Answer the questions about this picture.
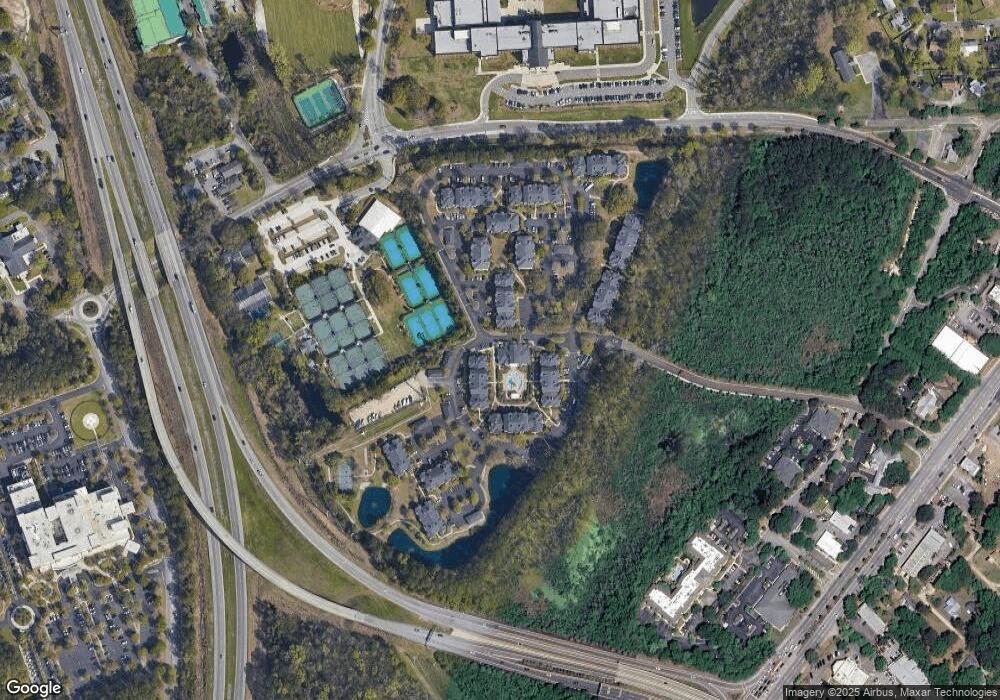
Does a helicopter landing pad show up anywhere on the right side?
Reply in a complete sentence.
No, there is no helicopter landing pad on the right side.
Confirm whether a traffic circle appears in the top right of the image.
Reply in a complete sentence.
No, the scene shows no traffic circle in the top right of the image.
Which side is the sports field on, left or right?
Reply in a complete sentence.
The sports field is on the left side of the image.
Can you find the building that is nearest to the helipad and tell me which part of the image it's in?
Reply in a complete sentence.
The building that is nearest to the helipad is located in the bottom left region of the scene.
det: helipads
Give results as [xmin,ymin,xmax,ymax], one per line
[71,401,110,440]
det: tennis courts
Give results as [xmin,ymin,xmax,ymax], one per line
[317,83,347,117]
[411,264,441,300]
[379,234,409,271]
[310,274,341,313]
[402,313,431,349]
[395,271,424,309]
[359,337,390,375]
[338,464,353,490]
[326,311,357,349]
[395,226,423,263]
[327,352,357,391]
[306,86,335,123]
[416,307,444,342]
[311,319,341,357]
[294,282,324,320]
[431,299,458,335]
[343,345,373,383]
[343,303,374,341]
[325,267,356,306]
[294,92,322,129]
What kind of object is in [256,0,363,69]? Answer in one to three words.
sports field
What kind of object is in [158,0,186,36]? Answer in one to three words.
sports court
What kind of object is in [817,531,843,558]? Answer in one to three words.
building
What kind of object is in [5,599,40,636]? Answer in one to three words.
roundabout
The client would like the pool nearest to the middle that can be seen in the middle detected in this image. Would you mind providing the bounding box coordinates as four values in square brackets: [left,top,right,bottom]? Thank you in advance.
[504,368,527,397]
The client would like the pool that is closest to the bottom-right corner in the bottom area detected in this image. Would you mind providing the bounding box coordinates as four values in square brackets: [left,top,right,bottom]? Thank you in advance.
[670,559,689,582]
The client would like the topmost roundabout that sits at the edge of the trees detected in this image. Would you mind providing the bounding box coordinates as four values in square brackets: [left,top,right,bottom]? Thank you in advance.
[73,292,107,325]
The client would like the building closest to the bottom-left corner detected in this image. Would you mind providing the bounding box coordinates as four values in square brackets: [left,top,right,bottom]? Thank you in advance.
[5,478,140,580]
